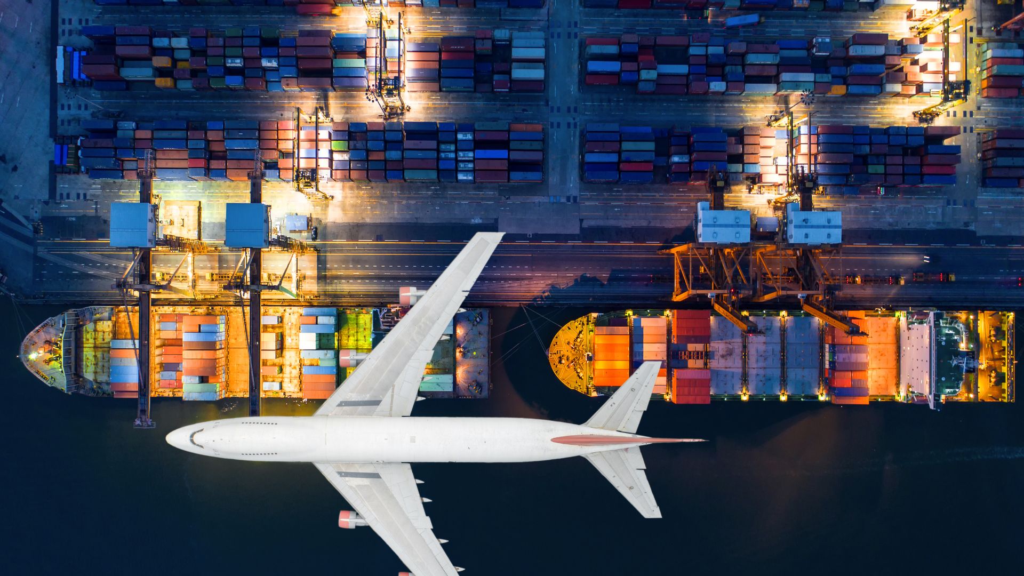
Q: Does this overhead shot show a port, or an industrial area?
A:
port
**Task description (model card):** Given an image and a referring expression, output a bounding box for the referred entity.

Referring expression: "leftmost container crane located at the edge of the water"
[92,142,237,429]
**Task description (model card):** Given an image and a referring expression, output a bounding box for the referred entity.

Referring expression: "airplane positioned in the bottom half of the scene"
[167,232,706,576]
